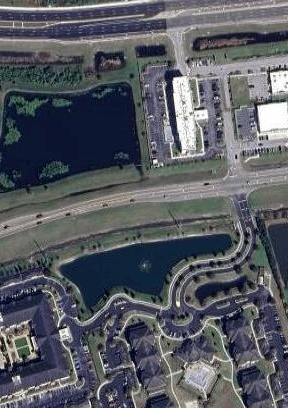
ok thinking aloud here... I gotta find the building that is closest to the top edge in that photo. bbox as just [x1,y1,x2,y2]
[270,70,288,96]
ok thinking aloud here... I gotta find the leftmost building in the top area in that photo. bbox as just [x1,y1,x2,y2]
[174,76,198,158]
